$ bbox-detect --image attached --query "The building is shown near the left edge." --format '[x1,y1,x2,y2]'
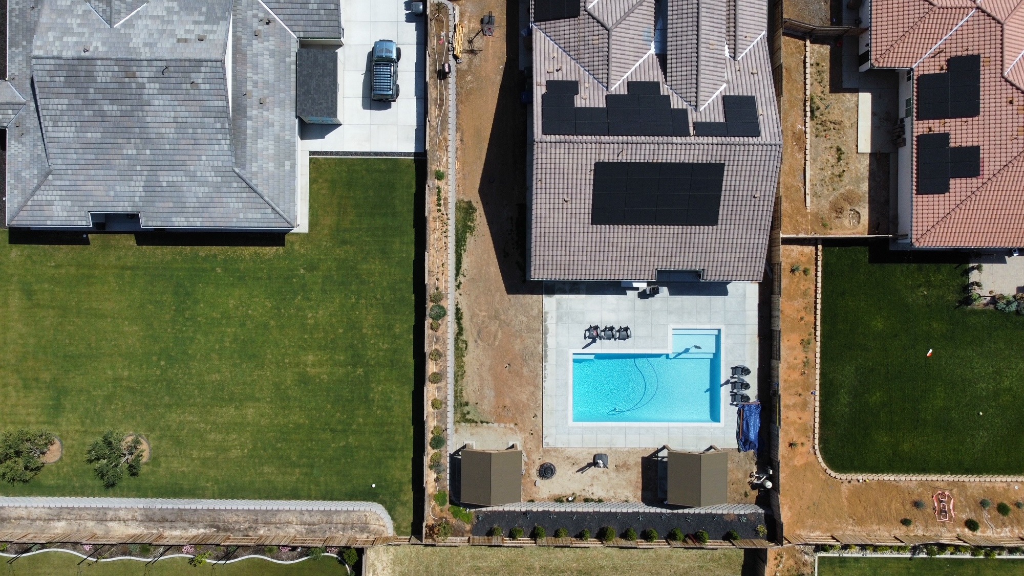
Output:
[0,0,343,231]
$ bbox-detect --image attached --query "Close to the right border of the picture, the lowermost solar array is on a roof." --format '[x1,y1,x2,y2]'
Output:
[918,133,980,195]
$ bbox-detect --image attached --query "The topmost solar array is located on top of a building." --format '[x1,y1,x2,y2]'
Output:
[535,0,580,20]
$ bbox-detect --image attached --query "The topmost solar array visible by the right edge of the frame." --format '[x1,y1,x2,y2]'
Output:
[919,54,980,120]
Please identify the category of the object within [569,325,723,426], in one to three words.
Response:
swimming pool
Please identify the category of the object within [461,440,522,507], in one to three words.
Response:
building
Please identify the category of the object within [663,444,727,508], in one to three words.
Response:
building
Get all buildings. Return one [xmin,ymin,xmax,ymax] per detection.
[461,440,522,507]
[0,0,343,231]
[663,444,727,508]
[859,0,1024,252]
[529,0,784,284]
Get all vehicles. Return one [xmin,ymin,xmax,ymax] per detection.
[371,38,403,102]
